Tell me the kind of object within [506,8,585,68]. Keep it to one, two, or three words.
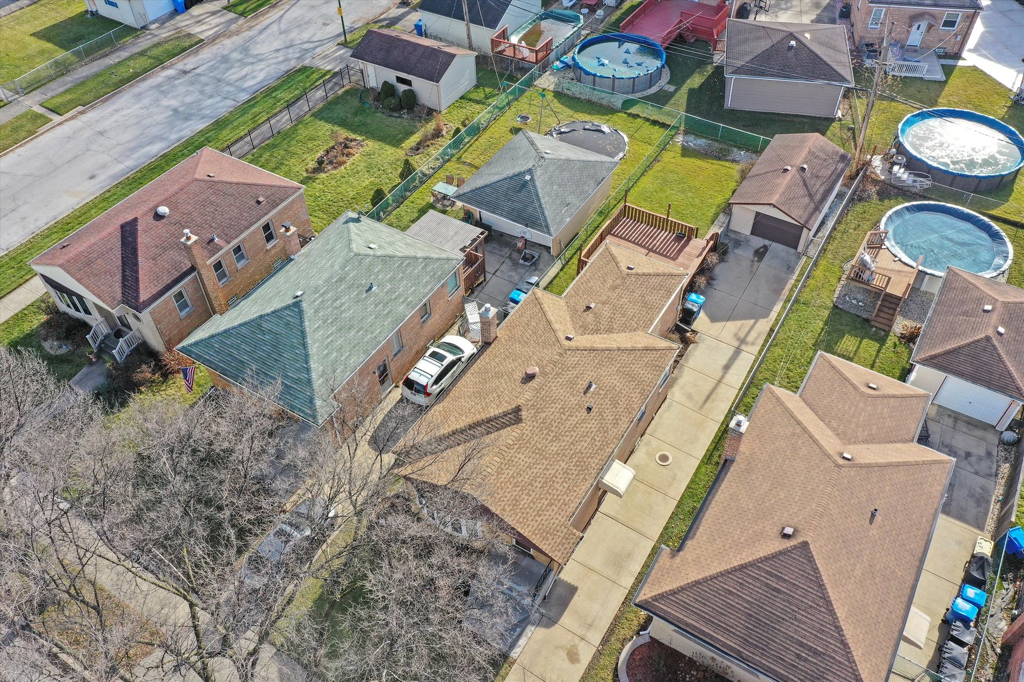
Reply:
swimming pool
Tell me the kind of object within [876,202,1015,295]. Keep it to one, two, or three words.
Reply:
swimming pool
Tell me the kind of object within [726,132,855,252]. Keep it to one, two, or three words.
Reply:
building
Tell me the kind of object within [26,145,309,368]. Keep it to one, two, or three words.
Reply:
house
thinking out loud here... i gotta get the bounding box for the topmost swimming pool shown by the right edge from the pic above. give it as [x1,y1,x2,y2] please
[892,108,1024,193]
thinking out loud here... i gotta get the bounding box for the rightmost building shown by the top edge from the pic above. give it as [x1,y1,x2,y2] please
[851,0,985,85]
